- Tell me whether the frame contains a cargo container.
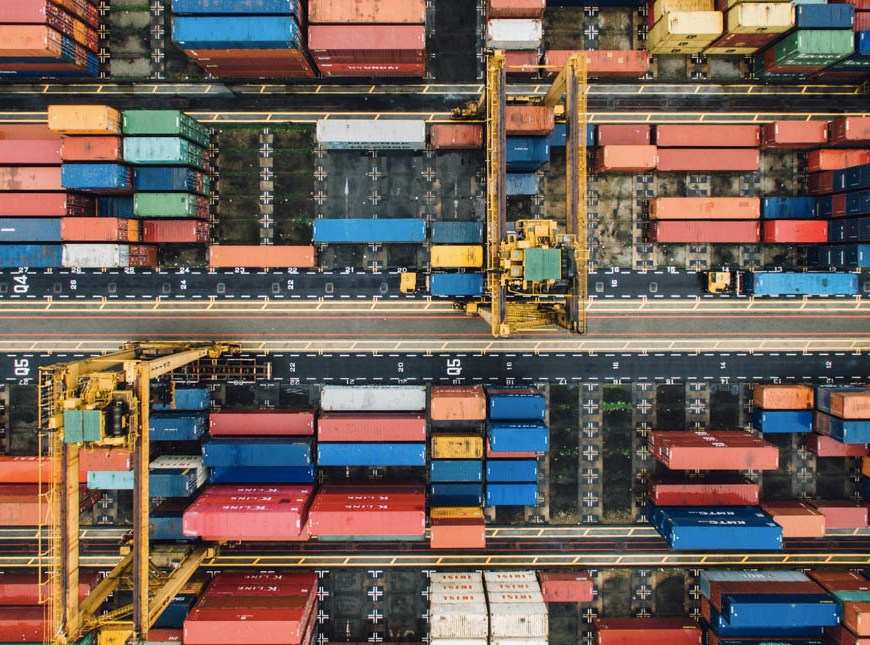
Yes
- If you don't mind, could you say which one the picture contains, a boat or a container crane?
container crane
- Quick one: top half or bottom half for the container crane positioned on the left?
bottom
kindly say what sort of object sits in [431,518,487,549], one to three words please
shipping container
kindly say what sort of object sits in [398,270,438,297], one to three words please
truck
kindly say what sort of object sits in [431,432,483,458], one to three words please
shipping container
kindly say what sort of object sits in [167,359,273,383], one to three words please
trailer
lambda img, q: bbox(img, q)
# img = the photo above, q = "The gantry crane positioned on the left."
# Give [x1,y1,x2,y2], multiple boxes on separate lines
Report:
[29,345,240,644]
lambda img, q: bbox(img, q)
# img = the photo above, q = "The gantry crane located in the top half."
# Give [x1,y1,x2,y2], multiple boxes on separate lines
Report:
[449,52,591,335]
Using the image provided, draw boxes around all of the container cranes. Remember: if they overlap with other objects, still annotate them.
[449,52,591,335]
[29,345,240,644]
